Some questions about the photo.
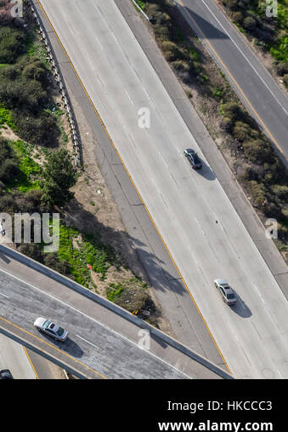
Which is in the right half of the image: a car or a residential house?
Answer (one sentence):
Looking in the right half of the image, you will find a car.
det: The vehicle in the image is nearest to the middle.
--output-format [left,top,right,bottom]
[182,148,203,171]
